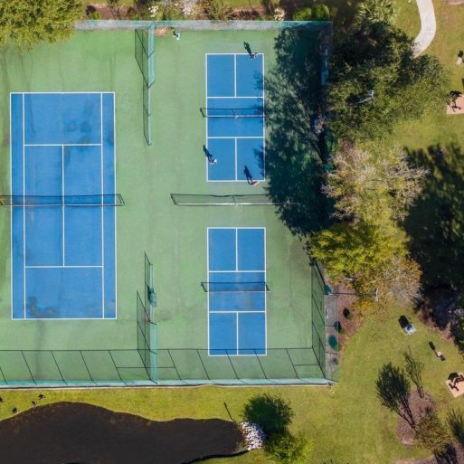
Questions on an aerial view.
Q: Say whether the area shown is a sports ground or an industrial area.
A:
sports ground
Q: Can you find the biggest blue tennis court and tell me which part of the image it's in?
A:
left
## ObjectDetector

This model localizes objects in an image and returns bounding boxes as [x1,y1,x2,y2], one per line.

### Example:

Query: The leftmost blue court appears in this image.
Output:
[10,92,117,319]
